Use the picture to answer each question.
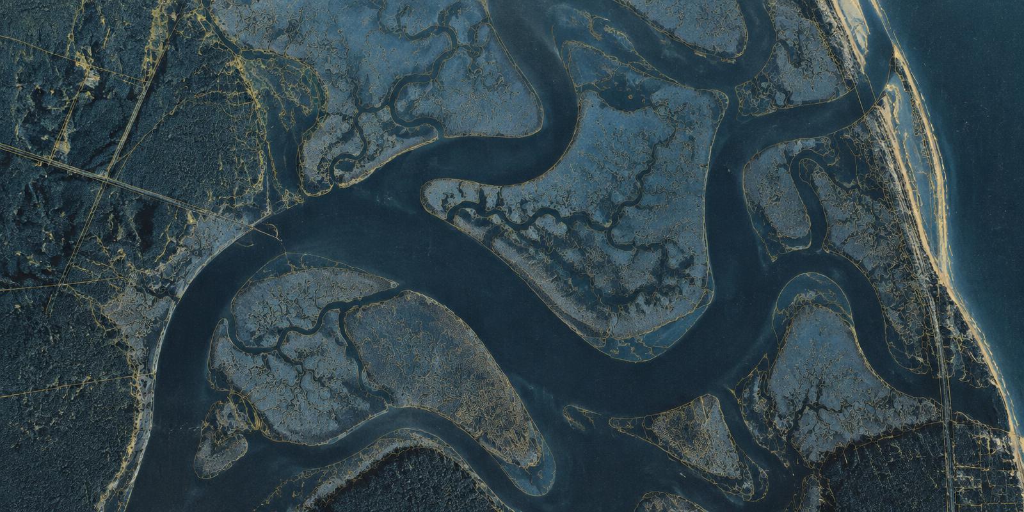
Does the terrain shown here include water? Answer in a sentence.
Yes, there's water in this view.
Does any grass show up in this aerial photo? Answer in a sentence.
Yes, some grass is visible.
